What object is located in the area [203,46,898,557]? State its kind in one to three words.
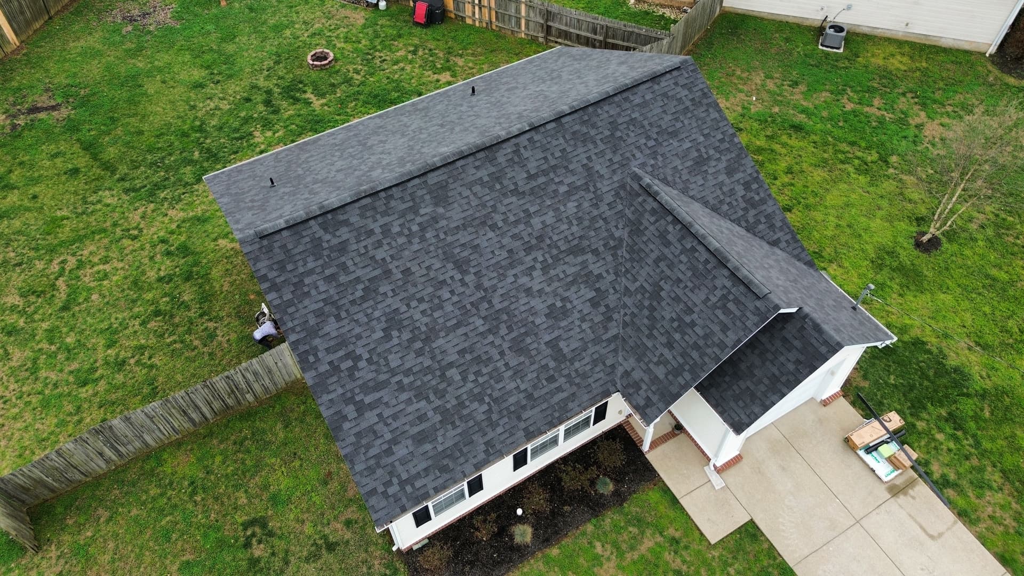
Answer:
house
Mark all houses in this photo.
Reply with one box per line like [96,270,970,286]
[722,0,1024,53]
[203,46,898,557]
